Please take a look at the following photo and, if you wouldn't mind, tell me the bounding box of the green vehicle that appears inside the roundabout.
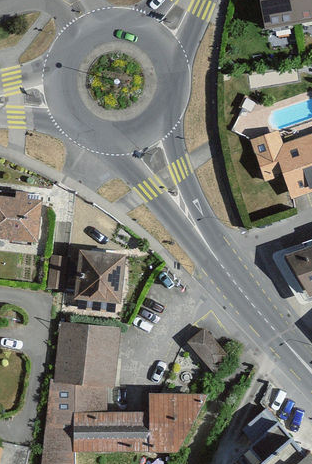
[114,28,138,42]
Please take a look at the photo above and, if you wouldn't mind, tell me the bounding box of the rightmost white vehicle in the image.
[271,389,287,410]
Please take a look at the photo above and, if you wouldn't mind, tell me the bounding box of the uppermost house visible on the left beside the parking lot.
[74,250,126,304]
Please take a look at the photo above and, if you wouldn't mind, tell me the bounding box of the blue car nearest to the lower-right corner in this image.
[290,408,305,432]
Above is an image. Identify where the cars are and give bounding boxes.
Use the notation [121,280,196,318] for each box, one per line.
[152,360,168,382]
[134,316,154,333]
[271,389,287,410]
[280,398,296,420]
[290,408,305,432]
[0,338,23,349]
[148,0,166,10]
[114,28,138,42]
[160,270,176,289]
[144,298,166,314]
[84,224,108,244]
[140,306,161,324]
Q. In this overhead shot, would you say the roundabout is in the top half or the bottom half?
top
